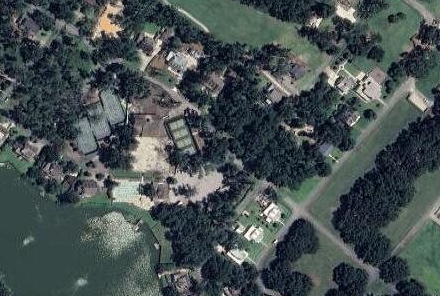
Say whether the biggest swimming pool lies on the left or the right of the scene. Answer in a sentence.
The biggest swimming pool appears in the left half of the scene.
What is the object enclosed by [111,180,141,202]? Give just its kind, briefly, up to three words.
swimming pool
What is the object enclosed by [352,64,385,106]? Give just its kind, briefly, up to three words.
house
